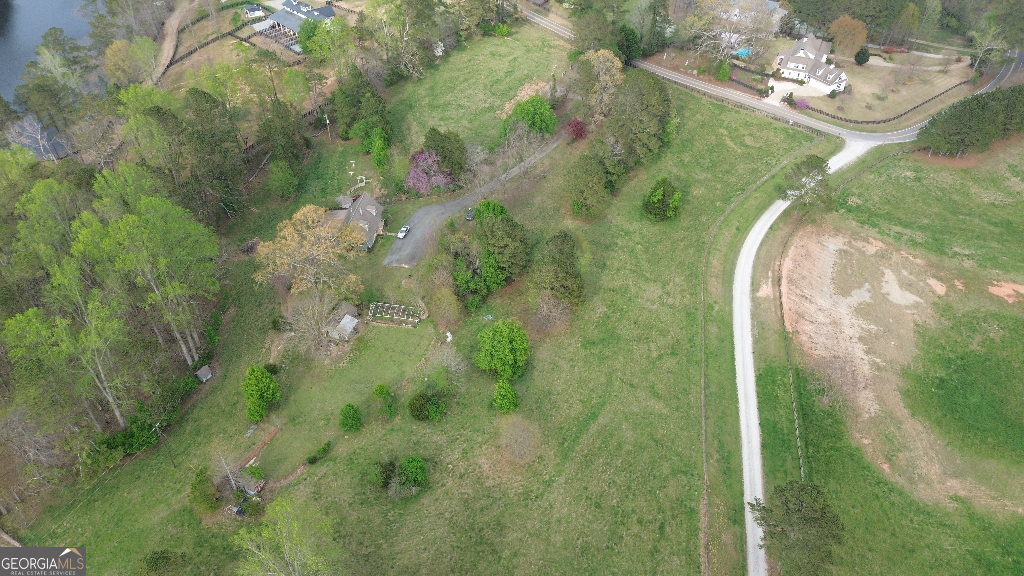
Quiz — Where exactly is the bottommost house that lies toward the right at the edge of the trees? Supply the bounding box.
[767,32,853,94]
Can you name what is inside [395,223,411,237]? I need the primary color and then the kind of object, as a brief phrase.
white car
